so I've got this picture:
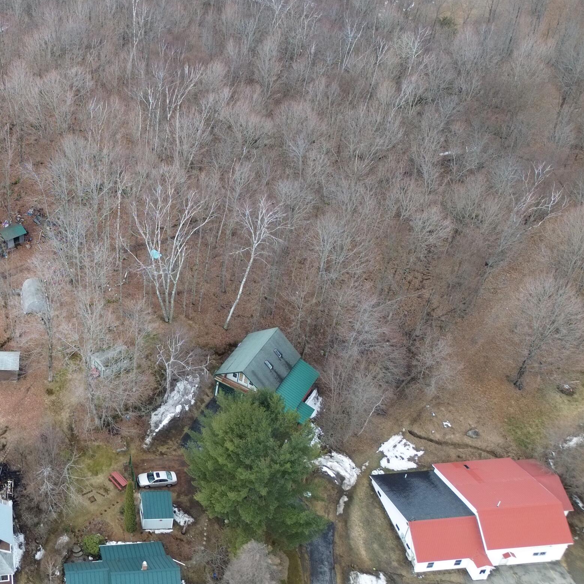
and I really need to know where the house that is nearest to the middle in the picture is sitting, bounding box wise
[213,329,319,435]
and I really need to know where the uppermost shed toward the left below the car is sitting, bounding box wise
[139,486,176,529]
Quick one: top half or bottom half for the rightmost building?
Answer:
bottom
